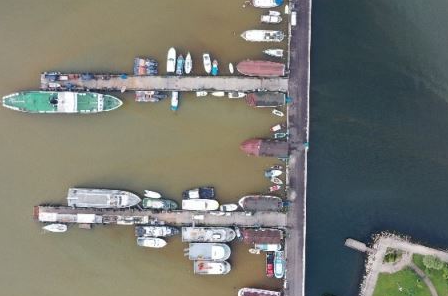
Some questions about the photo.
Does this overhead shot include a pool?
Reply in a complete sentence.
No, no pool is visible in the scene.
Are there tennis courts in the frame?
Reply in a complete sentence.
No, I can see no tennis court in this picture.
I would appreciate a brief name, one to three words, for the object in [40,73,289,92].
pier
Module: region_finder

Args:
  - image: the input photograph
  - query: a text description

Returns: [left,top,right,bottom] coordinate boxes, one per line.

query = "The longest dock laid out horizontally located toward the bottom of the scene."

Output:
[41,205,287,227]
